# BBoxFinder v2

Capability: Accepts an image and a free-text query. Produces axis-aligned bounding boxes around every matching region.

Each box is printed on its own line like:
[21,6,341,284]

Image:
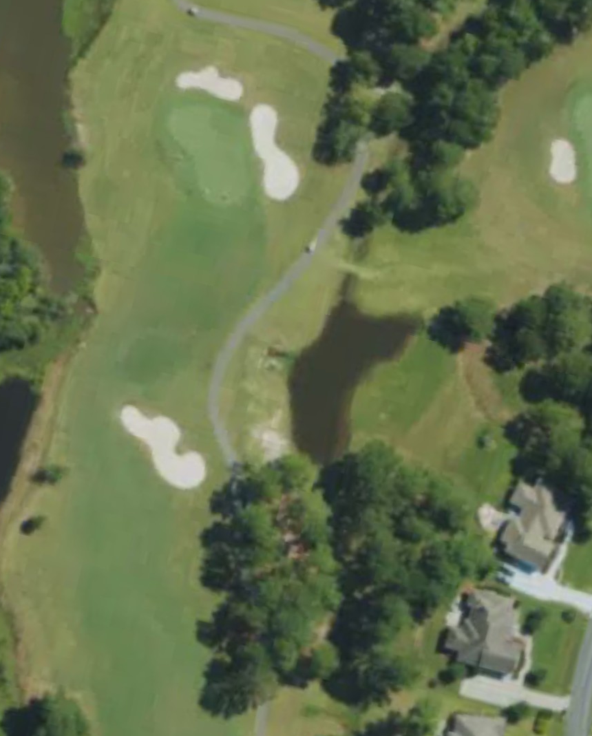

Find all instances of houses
[448,713,508,736]
[442,590,526,676]
[494,478,564,574]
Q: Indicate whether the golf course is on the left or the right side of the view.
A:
left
